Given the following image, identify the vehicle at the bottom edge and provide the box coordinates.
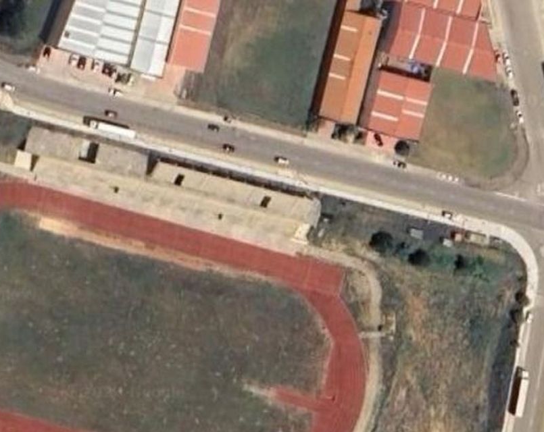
[513,373,530,415]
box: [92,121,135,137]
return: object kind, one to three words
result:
vehicle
